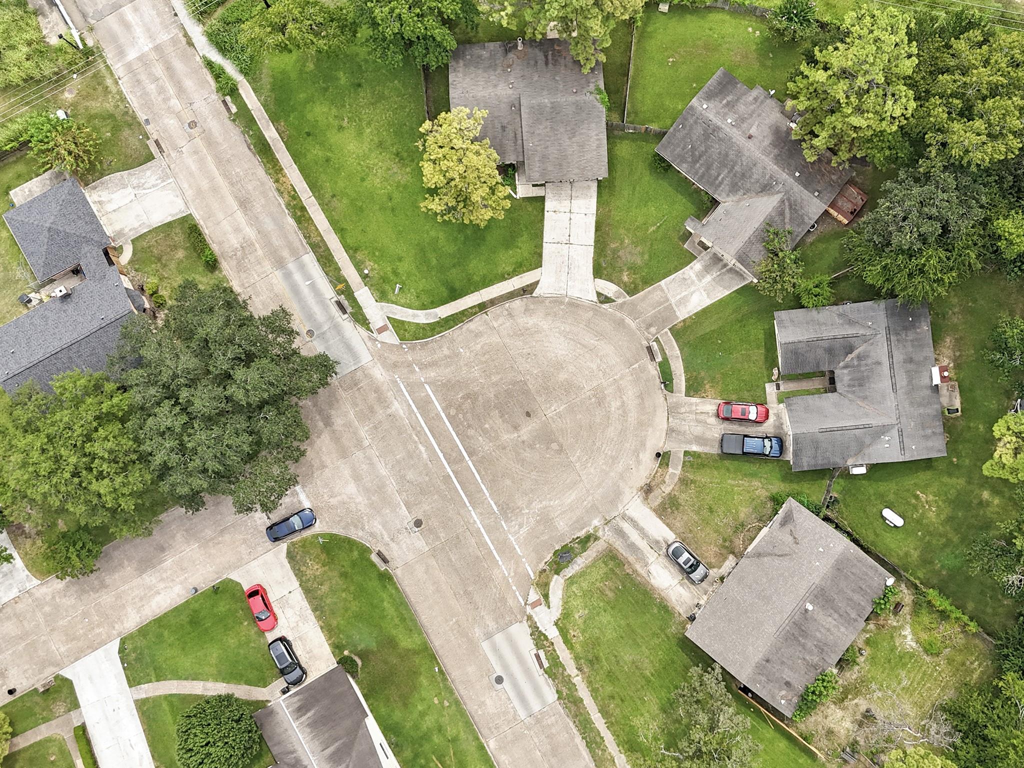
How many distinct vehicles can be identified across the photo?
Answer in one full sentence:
I count 6 vehicles.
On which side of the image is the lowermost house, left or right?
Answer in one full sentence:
It is on the left.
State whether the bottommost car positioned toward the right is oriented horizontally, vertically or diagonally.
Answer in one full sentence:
From this overhead view, the bottommost car positioned toward the right appears to run diagonally.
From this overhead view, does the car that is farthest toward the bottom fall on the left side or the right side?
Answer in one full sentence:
The car that is farthest toward the bottom sits on the left side.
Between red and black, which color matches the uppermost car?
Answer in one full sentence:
From above, the uppermost car appears red.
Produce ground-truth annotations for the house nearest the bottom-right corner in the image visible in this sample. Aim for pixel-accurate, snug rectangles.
[684,496,896,718]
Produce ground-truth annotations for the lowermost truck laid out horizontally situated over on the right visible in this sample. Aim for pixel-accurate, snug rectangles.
[718,433,783,459]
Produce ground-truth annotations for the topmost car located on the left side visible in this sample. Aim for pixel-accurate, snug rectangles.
[265,506,319,544]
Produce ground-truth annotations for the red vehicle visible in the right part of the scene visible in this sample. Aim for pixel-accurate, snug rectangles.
[716,401,768,425]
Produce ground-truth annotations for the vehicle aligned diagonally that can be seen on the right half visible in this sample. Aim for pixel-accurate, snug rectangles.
[665,538,709,586]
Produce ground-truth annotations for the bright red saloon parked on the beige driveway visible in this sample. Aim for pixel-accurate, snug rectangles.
[244,581,279,633]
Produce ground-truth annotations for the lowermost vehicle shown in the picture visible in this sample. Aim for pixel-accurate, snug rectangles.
[269,632,306,686]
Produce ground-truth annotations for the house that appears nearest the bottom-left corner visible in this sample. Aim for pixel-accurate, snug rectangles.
[253,658,402,768]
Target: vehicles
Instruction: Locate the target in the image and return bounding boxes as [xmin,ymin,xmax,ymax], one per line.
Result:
[244,581,279,633]
[718,433,783,459]
[665,538,709,586]
[265,506,319,544]
[716,401,768,425]
[269,632,306,686]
